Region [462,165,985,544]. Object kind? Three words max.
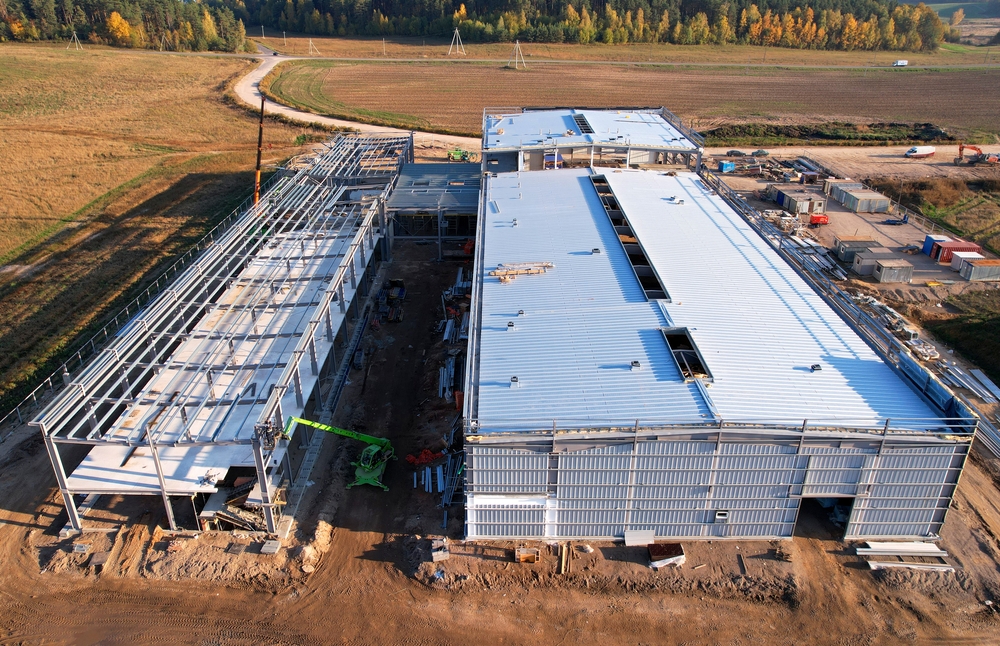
building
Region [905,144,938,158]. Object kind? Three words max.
vehicle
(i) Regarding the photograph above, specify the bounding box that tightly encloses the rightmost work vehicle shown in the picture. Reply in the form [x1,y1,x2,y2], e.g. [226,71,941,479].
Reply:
[956,142,1000,166]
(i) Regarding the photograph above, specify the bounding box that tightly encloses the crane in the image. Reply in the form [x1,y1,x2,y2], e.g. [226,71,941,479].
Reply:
[234,94,269,240]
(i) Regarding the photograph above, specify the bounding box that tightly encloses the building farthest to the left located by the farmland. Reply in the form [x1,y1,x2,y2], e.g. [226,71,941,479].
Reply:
[25,128,416,545]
